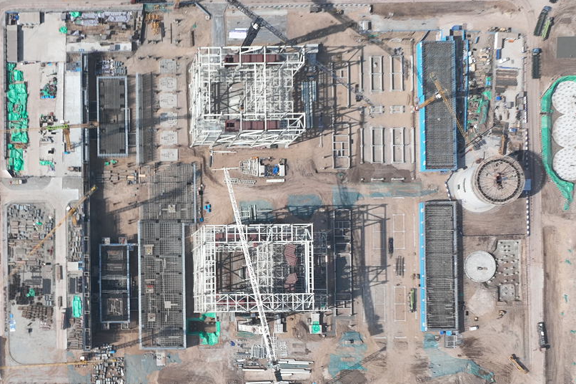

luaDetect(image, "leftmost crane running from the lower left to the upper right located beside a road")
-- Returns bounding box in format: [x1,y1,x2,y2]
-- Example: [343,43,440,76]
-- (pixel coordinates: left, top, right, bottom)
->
[0,184,99,286]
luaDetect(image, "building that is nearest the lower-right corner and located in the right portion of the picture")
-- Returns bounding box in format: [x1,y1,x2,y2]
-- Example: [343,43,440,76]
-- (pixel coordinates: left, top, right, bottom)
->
[420,201,460,331]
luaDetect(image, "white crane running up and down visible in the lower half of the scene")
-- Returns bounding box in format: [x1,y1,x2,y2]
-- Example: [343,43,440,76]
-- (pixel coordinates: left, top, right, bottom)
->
[206,168,287,384]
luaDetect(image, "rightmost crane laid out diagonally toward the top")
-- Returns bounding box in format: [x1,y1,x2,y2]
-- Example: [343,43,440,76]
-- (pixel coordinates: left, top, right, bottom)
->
[414,71,484,162]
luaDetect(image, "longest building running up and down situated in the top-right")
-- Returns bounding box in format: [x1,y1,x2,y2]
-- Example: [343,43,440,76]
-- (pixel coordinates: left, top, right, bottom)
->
[416,29,457,173]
